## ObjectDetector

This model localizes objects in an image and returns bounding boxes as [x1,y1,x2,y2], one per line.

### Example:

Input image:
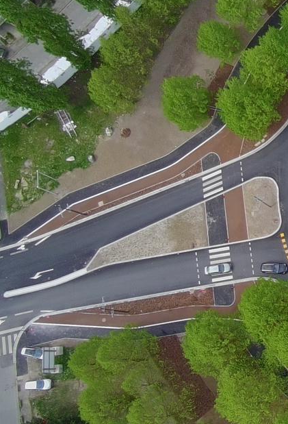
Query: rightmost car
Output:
[259,261,288,274]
